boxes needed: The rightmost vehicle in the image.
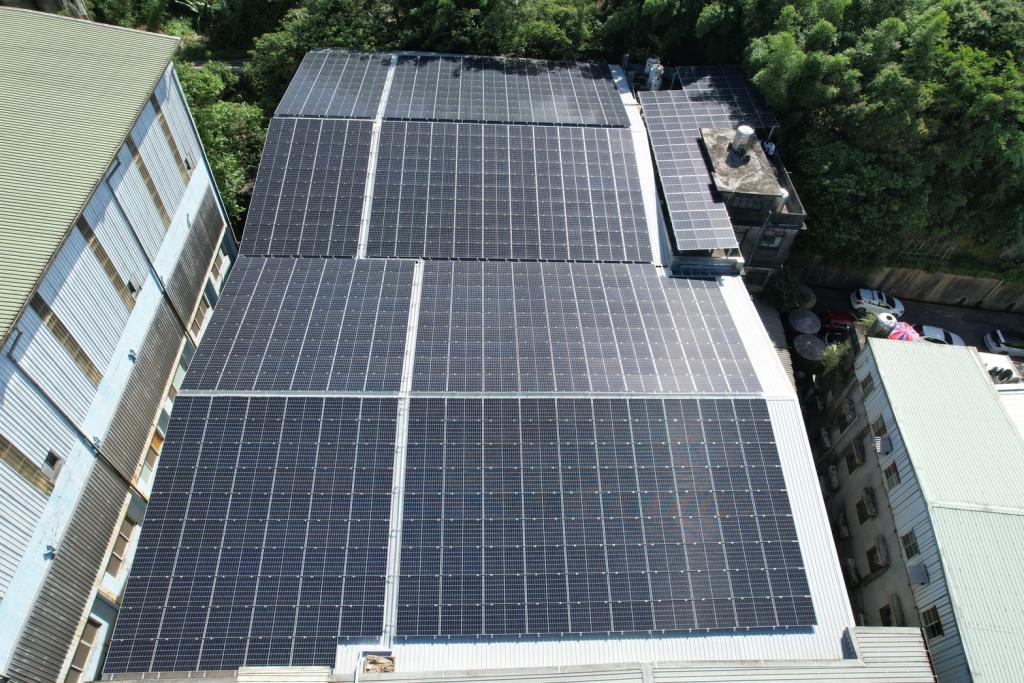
[987,331,1024,358]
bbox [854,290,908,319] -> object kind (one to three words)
car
